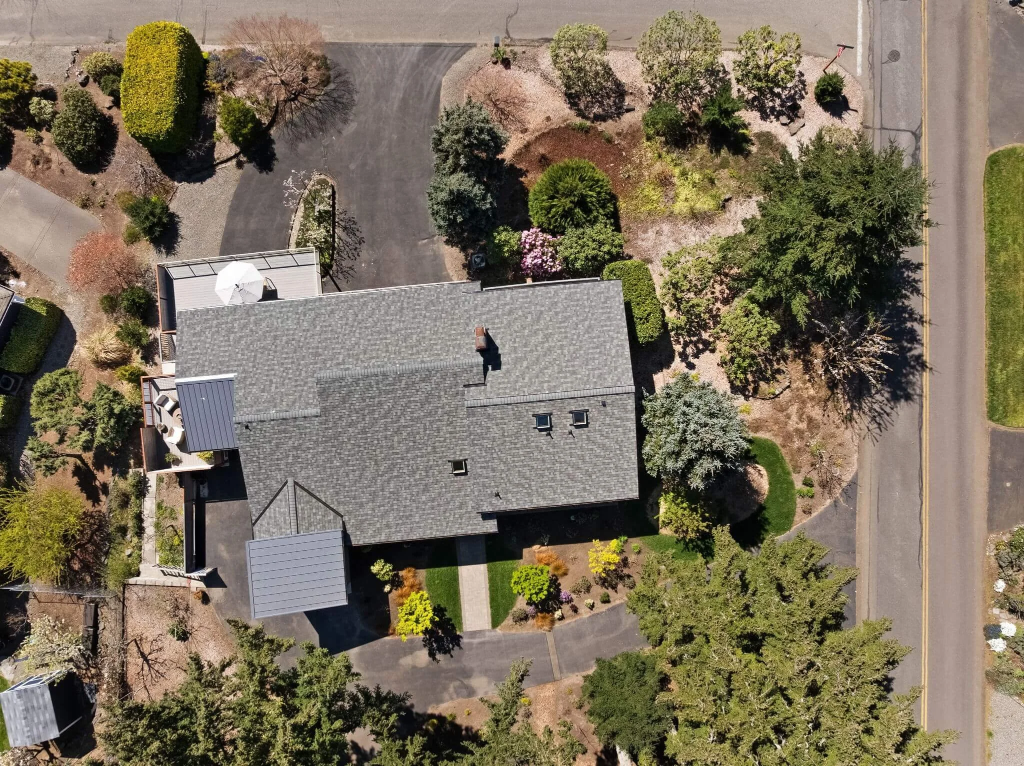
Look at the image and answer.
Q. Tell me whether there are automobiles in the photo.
No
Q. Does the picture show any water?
No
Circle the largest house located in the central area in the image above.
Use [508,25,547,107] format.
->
[171,279,638,547]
